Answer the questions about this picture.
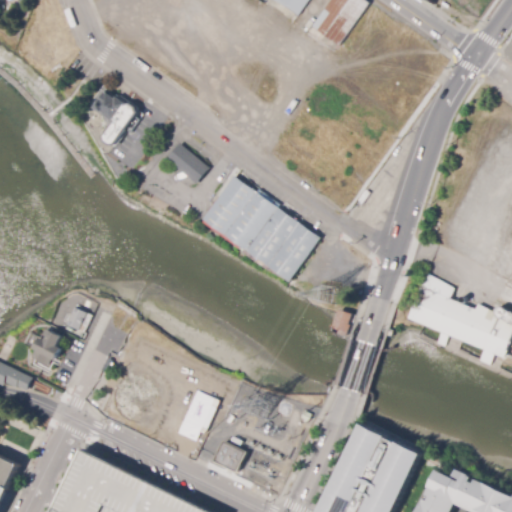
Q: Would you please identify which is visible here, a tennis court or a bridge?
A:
bridge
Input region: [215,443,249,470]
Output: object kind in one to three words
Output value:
building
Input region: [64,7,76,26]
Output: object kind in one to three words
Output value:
vehicle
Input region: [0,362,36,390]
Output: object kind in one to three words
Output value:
shed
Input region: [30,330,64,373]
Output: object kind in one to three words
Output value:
house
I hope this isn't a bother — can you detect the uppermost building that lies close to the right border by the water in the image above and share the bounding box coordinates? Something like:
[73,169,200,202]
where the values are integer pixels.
[408,275,512,365]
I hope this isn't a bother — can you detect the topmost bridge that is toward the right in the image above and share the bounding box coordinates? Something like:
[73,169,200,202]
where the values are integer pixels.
[332,298,395,410]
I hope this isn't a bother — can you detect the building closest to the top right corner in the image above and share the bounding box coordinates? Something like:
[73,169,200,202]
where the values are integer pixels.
[308,0,377,52]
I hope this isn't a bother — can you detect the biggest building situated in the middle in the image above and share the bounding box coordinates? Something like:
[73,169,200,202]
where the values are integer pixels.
[203,178,323,281]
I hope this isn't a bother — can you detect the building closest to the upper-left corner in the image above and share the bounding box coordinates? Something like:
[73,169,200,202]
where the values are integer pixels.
[93,91,128,119]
